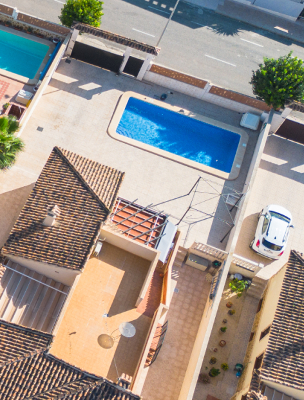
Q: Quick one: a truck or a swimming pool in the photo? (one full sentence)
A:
The image shows a swimming pool.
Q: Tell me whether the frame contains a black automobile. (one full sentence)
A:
No, no black automobile is visible in the scene.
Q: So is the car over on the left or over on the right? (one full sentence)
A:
You can find the car on the right side of the picture.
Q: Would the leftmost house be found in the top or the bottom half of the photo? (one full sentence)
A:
The leftmost house is in the bottom half of the image.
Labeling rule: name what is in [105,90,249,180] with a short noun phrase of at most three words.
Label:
swimming pool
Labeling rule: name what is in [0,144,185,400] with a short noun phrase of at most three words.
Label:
house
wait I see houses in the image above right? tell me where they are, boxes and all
[241,248,304,400]
[0,144,185,400]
